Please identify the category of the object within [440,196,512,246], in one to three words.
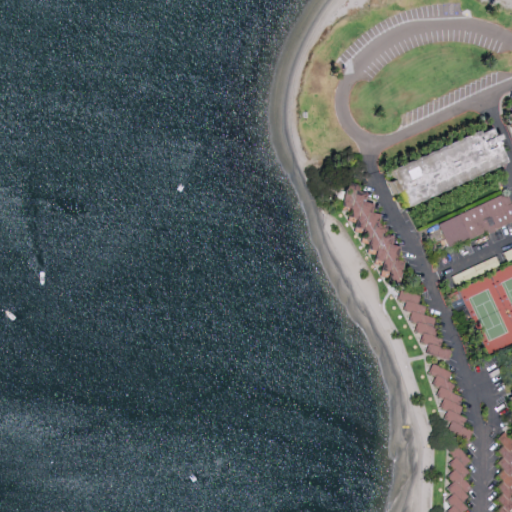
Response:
building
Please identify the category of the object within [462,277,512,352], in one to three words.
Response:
tennis court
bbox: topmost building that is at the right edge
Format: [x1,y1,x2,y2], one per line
[390,128,510,206]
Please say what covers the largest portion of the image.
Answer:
water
